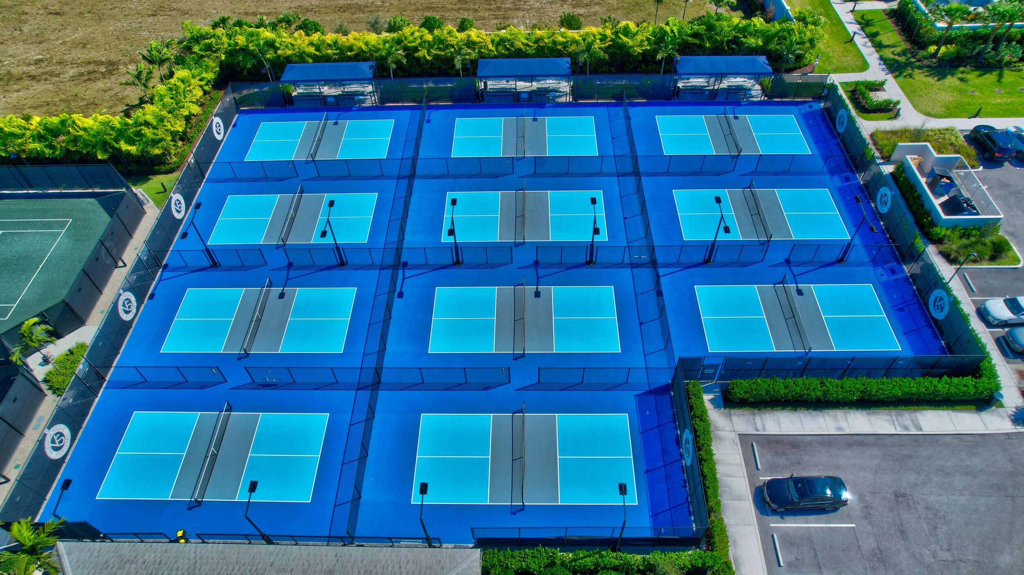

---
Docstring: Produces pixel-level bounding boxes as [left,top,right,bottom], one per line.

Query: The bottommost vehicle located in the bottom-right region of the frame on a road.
[761,472,852,513]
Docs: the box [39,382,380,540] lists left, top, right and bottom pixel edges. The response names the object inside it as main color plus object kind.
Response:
blue sports court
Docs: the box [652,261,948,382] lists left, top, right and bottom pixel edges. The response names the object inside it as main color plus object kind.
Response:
blue sports court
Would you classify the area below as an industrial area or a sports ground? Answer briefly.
sports ground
